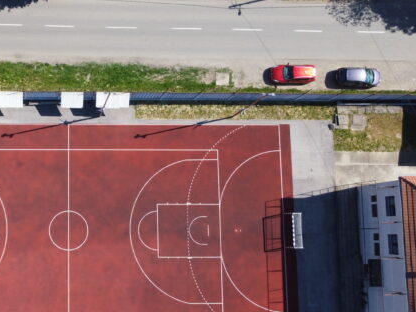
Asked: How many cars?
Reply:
two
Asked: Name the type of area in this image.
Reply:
sports ground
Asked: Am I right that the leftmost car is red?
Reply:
Yes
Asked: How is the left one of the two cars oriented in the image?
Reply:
from left to right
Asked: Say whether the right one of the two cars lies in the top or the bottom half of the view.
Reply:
top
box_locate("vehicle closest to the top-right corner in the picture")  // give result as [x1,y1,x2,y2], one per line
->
[334,65,380,86]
